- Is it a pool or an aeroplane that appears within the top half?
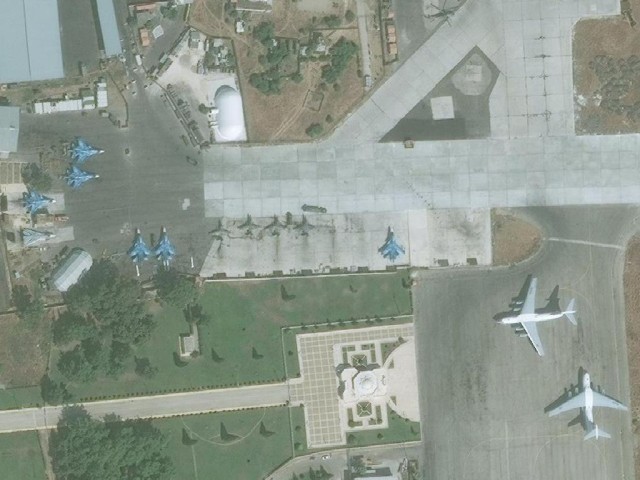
aeroplane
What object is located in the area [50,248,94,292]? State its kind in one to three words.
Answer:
shed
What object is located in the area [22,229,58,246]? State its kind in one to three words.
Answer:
airplane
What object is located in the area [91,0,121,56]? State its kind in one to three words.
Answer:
hangar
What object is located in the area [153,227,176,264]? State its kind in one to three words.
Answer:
airplane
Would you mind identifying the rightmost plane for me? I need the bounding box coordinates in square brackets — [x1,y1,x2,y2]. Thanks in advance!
[551,371,631,442]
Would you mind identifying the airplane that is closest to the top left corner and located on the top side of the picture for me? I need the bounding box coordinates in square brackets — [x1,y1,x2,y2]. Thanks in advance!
[68,140,105,162]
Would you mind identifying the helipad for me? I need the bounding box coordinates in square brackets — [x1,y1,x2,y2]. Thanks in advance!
[431,96,454,119]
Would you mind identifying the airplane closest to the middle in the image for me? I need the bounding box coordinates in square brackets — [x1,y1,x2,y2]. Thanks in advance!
[294,213,316,239]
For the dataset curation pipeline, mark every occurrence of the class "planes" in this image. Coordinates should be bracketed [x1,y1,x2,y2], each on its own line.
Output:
[21,191,56,214]
[22,229,58,246]
[499,278,580,357]
[551,371,631,442]
[153,227,176,264]
[266,214,288,239]
[381,228,403,264]
[128,229,151,264]
[68,140,105,162]
[239,214,261,239]
[64,166,100,189]
[294,213,316,239]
